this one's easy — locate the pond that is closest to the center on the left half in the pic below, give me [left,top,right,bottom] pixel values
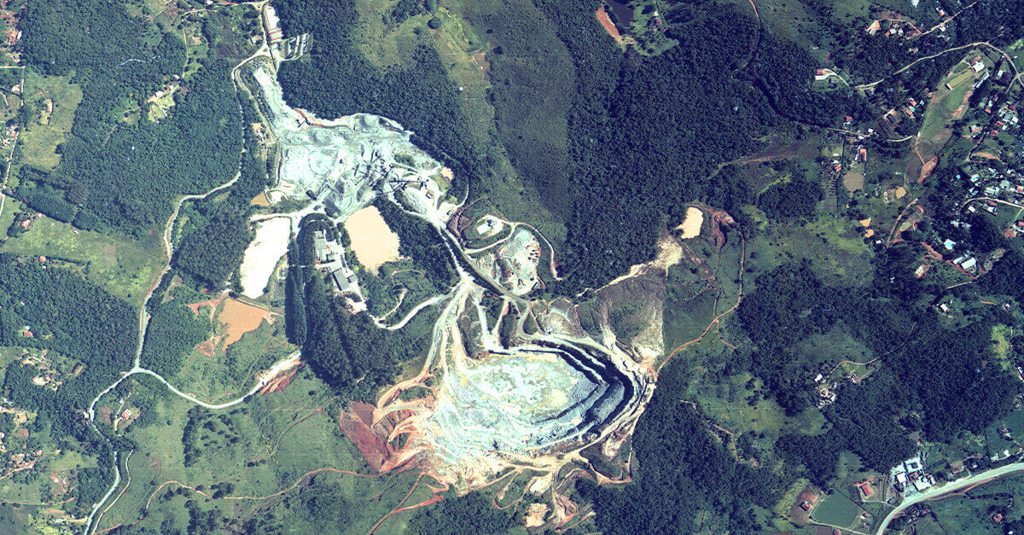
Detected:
[346,206,399,273]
